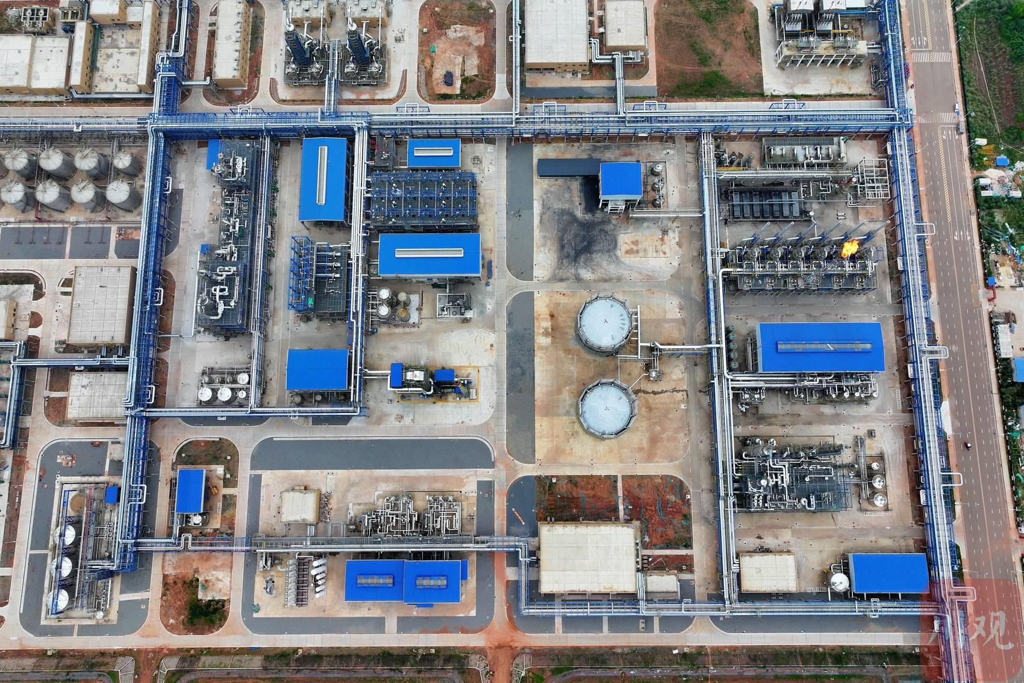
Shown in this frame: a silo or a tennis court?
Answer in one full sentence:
There is a silo in the scene.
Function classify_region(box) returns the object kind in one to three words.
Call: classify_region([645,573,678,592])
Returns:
shed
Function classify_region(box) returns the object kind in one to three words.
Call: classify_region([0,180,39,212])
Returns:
silo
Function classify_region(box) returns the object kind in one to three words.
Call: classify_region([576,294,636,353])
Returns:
storage tank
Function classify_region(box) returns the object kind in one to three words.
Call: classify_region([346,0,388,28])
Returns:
building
